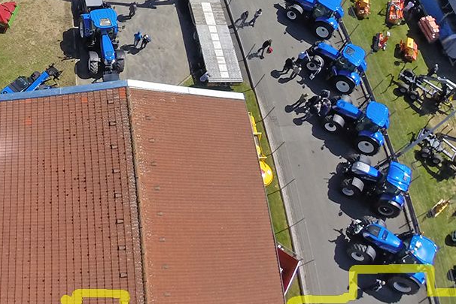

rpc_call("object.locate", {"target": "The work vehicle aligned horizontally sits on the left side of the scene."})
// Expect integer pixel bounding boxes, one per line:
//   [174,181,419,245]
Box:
[2,58,90,93]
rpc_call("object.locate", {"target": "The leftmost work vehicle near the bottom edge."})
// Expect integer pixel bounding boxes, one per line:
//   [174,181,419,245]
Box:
[322,212,442,293]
